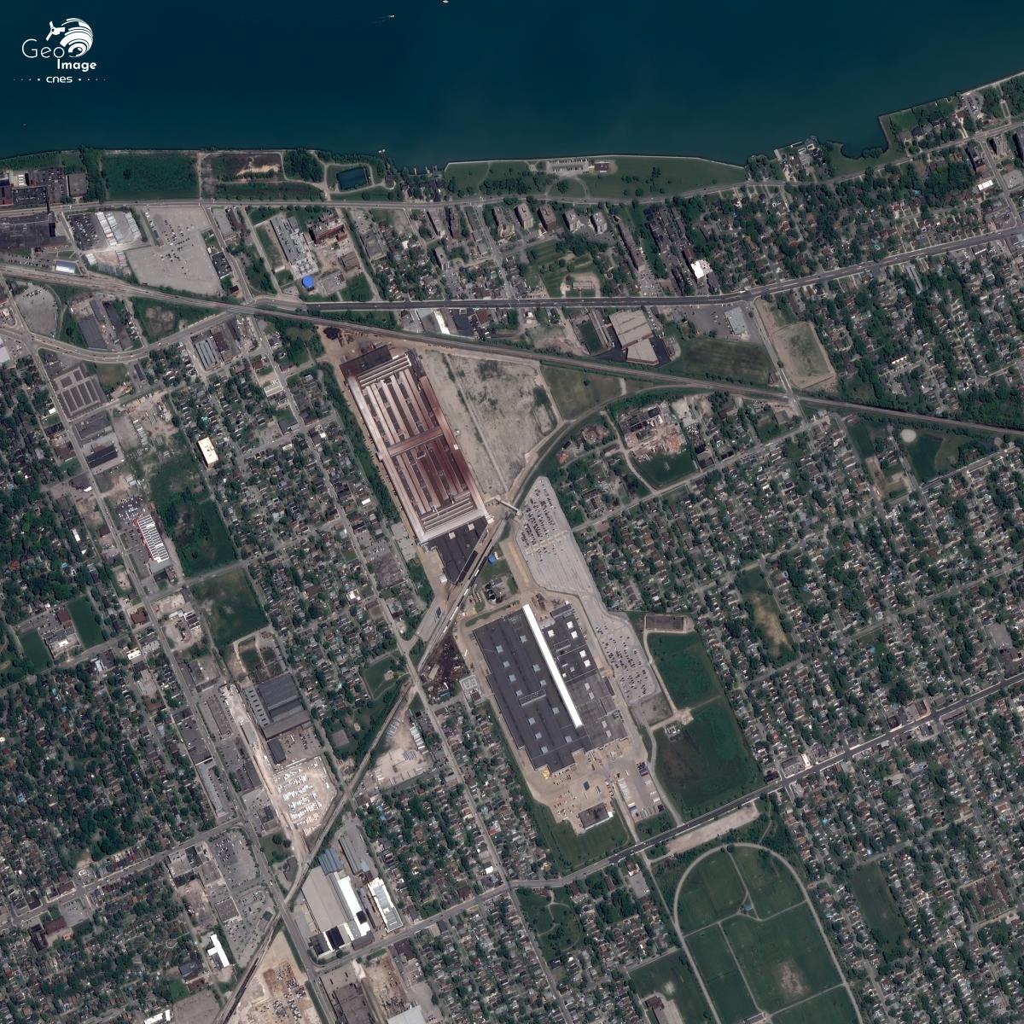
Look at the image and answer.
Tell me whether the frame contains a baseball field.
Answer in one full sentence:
Yes, the image includes a baseball field.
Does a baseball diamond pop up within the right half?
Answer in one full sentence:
Yes, a baseball diamond is visible within the right half.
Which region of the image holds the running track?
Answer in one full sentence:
The running track sits in the bottom right section of the image.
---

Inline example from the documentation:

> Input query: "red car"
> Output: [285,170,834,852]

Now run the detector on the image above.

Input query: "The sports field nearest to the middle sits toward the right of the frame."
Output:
[637,447,697,487]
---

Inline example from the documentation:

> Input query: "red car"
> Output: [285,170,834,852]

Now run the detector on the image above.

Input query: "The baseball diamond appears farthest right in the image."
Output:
[901,428,942,484]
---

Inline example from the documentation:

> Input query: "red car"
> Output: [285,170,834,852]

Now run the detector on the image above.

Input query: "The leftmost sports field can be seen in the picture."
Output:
[19,630,52,669]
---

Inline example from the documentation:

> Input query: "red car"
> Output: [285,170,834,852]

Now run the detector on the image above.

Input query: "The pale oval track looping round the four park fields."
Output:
[674,843,862,1024]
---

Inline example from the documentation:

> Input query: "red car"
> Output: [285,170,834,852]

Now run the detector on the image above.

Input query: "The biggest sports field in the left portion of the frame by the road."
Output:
[194,570,263,646]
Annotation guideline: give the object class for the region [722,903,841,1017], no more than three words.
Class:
sports field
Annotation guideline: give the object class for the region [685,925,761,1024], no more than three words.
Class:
sports field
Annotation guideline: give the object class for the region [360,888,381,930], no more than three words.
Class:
building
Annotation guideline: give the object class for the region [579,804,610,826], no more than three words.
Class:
building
